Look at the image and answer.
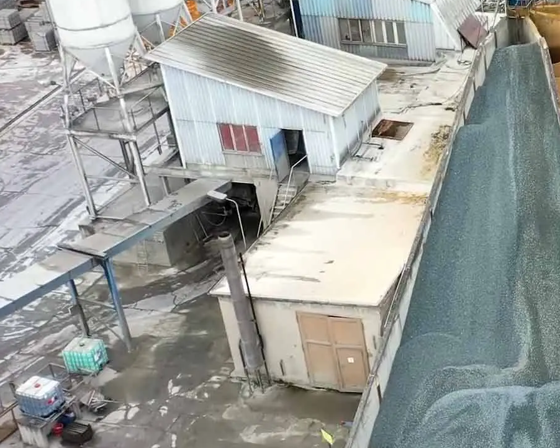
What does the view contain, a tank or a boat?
tank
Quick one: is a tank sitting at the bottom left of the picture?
Yes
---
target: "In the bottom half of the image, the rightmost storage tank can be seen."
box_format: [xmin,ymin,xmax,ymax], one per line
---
[59,327,108,377]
